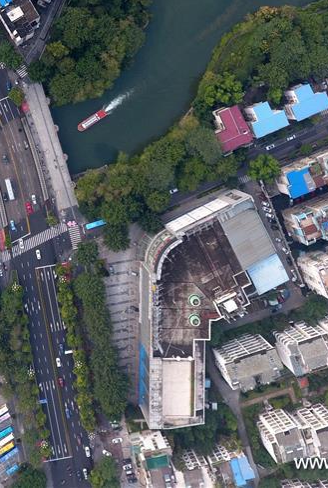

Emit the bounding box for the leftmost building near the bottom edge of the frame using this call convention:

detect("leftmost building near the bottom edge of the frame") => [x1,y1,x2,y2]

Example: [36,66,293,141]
[133,423,175,488]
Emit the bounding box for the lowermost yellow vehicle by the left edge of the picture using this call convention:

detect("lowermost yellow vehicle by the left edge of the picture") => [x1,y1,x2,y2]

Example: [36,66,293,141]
[0,441,16,456]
